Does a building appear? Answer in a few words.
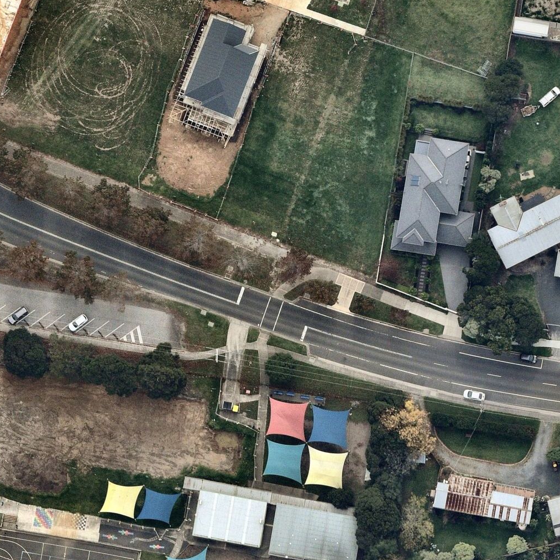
Yes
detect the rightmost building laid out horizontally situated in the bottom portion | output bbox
[431,475,534,525]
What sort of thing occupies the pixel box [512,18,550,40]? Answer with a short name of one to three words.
shed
